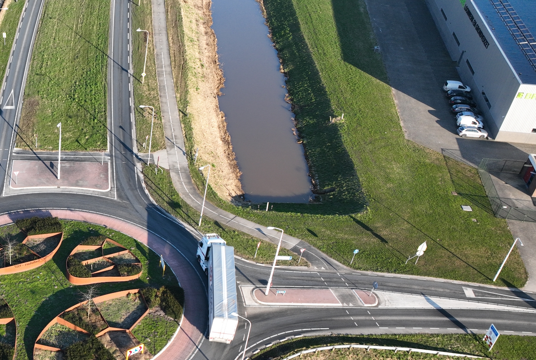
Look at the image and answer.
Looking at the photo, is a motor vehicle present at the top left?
No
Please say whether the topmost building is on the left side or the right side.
right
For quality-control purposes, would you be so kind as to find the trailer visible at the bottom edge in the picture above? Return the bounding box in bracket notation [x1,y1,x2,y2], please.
[208,244,238,343]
